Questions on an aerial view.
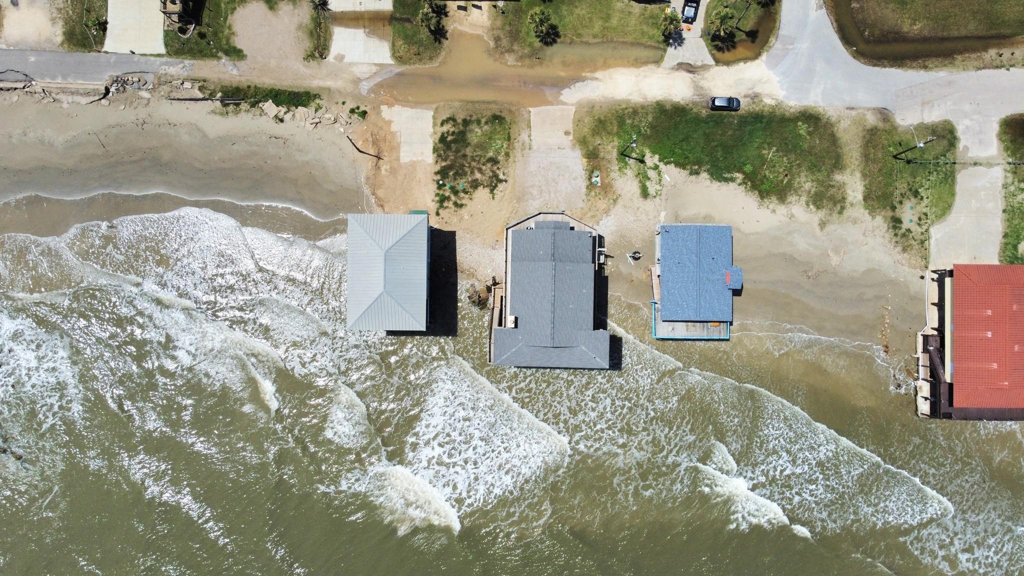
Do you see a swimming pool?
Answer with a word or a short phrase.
No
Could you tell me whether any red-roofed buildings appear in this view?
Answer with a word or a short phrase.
Yes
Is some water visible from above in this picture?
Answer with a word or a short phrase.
Yes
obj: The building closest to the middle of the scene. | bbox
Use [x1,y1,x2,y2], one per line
[488,213,610,369]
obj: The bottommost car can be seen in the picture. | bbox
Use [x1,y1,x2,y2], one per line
[711,95,742,110]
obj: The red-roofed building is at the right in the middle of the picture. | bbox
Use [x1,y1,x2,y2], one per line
[922,264,1024,421]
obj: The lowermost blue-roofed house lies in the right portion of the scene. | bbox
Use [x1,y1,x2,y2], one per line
[648,223,742,340]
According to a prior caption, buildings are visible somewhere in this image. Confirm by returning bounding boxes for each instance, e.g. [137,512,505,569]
[346,210,432,332]
[157,0,194,23]
[648,223,742,340]
[488,213,610,369]
[922,264,1024,421]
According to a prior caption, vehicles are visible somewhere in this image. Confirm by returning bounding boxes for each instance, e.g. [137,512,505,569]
[711,95,742,110]
[683,0,699,22]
